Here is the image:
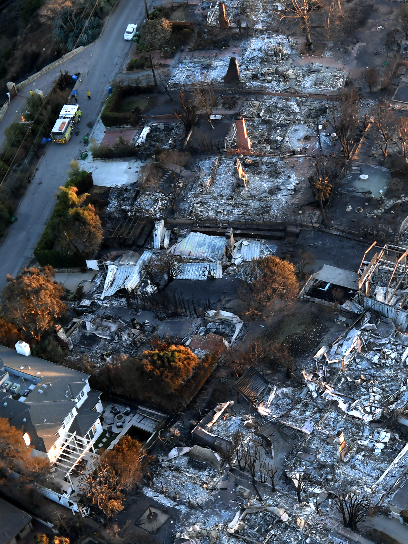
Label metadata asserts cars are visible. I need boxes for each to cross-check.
[124,23,138,40]
[69,298,101,313]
